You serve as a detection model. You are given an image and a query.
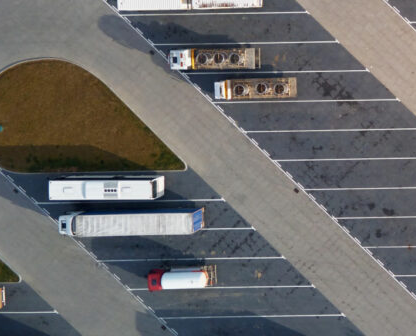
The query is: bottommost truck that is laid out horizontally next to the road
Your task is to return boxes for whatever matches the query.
[147,263,221,292]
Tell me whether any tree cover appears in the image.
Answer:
No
